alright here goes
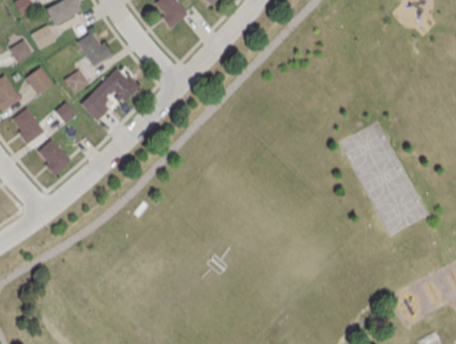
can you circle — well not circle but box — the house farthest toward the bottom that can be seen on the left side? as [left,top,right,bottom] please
[38,139,70,174]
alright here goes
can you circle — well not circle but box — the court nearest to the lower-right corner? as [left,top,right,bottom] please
[341,122,428,236]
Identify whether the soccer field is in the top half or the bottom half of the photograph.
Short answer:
bottom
